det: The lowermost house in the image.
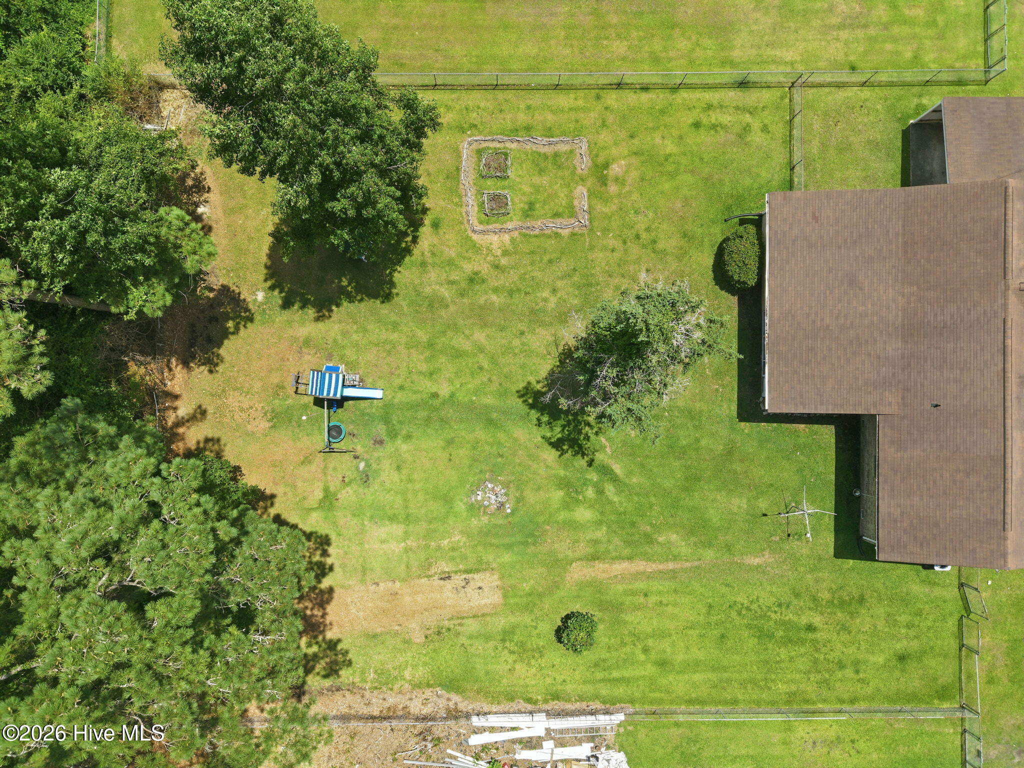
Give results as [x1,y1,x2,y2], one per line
[752,179,1024,569]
